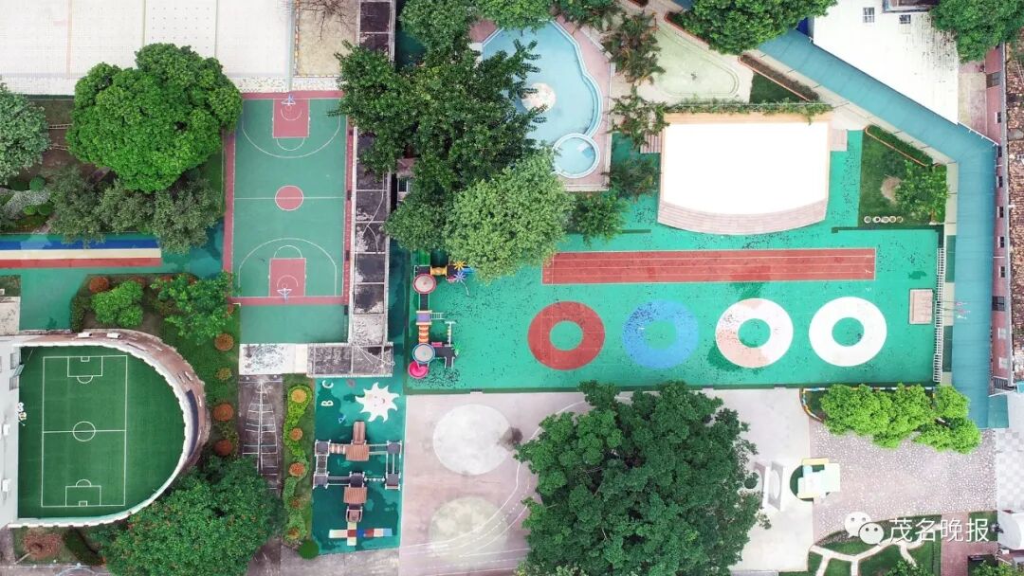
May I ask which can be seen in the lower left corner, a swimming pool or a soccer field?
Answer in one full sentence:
Visible in the lower left corner is a soccer field.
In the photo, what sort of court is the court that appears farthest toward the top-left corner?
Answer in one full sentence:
It looks like the court that appears farthest toward the top-left corner is a basketball court.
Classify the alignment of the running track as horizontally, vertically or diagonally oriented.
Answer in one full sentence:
What the image shows is the running track lying horizontally.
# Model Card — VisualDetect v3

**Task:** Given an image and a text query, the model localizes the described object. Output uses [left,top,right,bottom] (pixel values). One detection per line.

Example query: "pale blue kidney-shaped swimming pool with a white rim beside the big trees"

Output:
[480,18,603,164]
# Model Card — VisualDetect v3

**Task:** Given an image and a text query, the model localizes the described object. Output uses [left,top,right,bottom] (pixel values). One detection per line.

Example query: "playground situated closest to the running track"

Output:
[409,251,474,380]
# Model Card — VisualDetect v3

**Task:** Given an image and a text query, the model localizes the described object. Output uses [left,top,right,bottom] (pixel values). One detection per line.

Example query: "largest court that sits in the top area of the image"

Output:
[222,92,353,344]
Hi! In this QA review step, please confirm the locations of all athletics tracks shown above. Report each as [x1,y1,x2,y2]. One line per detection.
[543,247,876,285]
